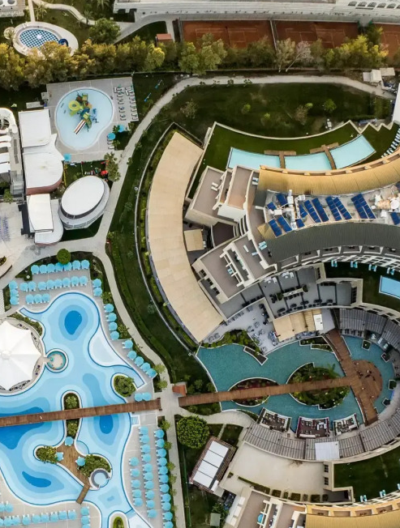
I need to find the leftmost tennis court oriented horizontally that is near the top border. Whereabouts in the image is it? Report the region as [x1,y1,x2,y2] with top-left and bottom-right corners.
[181,14,279,62]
